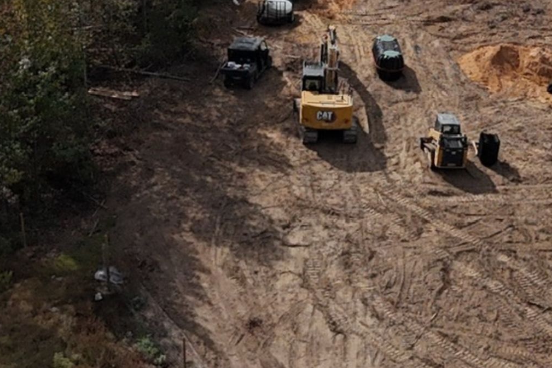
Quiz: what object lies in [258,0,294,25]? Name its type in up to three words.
trailer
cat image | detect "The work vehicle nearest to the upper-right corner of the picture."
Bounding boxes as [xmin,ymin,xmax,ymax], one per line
[417,114,475,169]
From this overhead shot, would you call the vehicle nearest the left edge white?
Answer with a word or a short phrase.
No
